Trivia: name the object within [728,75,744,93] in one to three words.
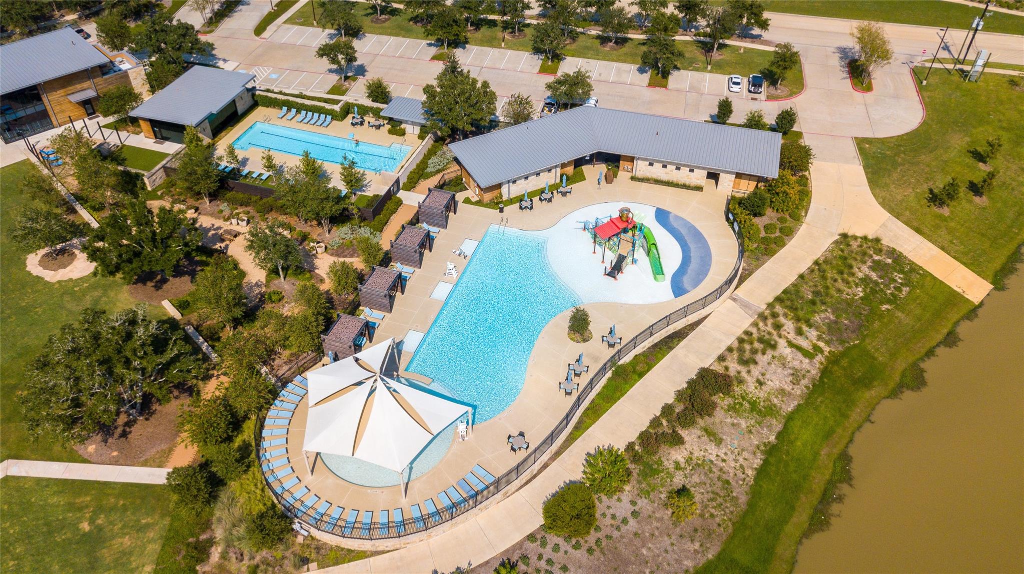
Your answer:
car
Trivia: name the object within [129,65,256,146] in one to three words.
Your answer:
building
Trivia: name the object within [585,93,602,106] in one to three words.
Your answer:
vehicle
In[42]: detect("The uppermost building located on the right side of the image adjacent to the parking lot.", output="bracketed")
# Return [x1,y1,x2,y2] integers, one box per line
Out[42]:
[448,104,782,202]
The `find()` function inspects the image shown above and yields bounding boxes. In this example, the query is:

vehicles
[748,75,764,93]
[728,75,744,93]
[66,18,89,36]
[538,95,559,117]
[585,93,602,106]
